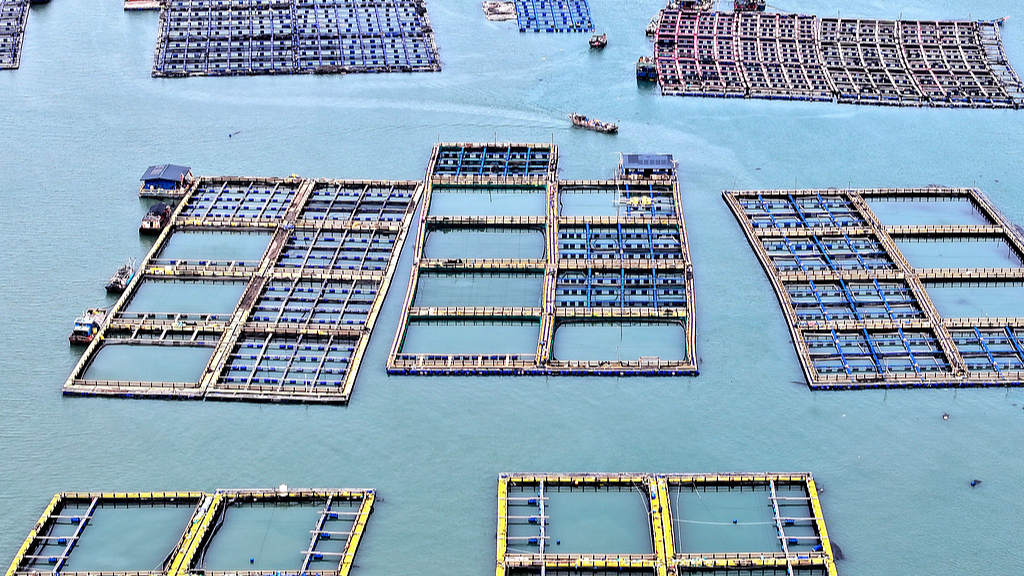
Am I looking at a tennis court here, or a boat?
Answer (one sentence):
The image shows a boat.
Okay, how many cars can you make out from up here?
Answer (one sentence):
The count of cars is 0.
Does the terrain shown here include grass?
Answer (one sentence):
No, grass can't be seen anywhere here.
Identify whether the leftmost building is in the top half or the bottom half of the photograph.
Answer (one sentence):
You can find the leftmost building in the top half.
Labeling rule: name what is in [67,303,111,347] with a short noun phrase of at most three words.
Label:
boat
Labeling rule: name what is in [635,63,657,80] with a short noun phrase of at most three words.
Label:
boat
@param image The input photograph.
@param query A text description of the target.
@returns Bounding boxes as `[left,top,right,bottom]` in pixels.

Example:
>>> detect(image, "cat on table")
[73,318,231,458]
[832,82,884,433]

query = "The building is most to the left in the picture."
[136,164,194,198]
